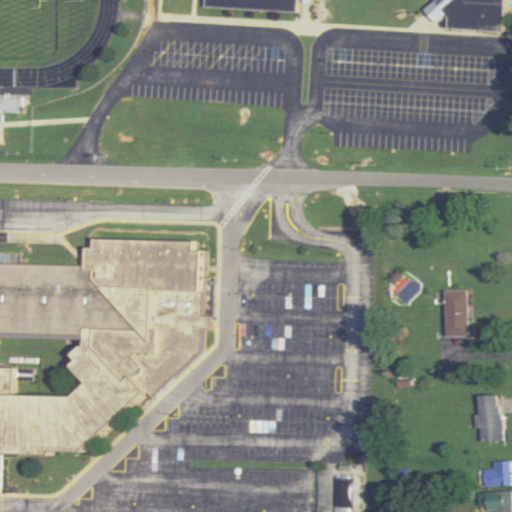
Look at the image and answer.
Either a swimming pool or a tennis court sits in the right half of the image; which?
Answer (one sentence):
Visible in the right half of the image is a swimming pool.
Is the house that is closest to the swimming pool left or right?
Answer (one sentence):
The house that is closest to the swimming pool sits on the right side.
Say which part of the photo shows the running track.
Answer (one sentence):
You can find the running track in the top left area of the picture.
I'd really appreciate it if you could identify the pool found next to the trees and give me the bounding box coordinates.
[390,272,422,306]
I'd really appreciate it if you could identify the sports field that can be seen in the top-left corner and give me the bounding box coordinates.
[0,0,100,67]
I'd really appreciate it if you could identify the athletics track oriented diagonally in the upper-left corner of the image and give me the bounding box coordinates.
[0,0,118,95]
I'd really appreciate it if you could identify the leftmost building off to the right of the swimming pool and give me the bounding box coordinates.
[438,290,470,338]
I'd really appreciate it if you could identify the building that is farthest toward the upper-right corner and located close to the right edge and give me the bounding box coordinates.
[445,0,506,32]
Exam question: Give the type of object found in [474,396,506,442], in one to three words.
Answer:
house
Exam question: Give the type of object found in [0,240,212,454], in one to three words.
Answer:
building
